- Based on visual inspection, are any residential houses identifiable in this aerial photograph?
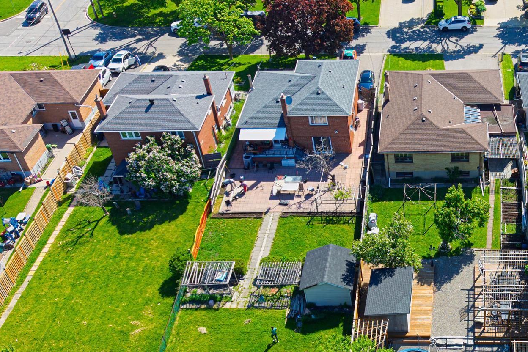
Yes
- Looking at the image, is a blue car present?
Yes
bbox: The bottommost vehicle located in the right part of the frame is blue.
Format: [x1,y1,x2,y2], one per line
[359,70,377,92]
